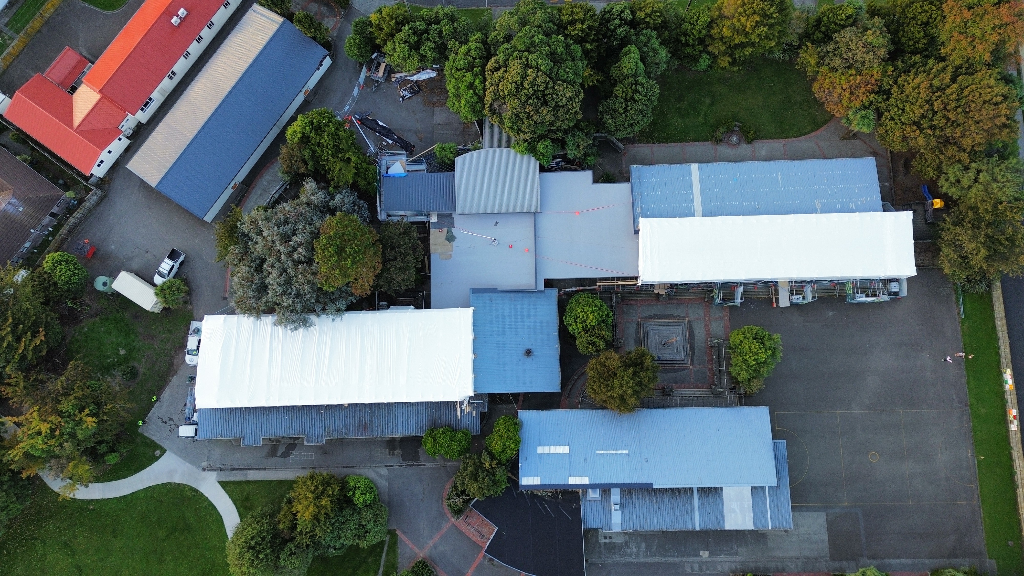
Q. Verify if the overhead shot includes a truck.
Yes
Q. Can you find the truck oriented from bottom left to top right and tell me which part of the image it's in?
left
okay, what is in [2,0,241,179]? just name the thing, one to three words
building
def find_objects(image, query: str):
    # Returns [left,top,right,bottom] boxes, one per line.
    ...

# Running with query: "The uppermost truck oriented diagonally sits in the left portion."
[152,246,186,284]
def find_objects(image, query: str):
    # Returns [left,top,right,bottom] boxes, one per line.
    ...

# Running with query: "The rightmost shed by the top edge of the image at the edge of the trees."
[126,4,331,221]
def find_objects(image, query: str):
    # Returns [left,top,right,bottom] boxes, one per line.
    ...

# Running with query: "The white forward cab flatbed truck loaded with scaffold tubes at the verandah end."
[171,386,196,442]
